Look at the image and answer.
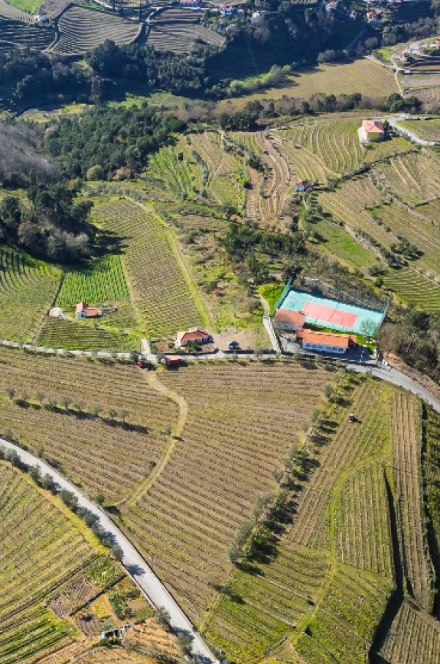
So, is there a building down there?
Yes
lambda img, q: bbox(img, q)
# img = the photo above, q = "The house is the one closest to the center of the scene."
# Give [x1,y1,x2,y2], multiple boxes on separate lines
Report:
[176,330,214,351]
